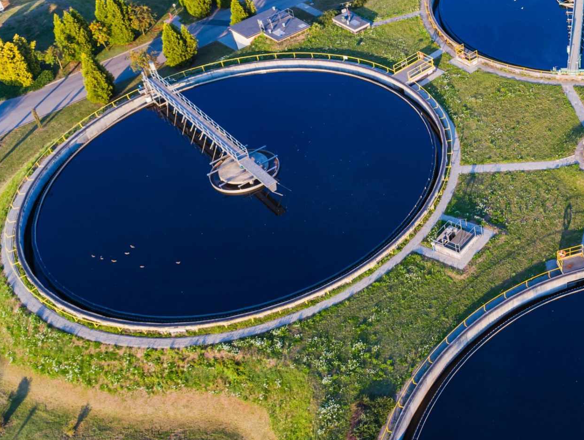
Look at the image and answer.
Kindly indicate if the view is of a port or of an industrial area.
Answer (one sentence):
The picture captures an industrial area.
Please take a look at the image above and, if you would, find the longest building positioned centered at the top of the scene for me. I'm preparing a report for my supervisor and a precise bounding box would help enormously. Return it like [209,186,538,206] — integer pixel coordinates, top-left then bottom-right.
[230,7,311,53]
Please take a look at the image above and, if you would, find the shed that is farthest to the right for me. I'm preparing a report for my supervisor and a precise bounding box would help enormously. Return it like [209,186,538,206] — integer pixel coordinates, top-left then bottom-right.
[333,3,370,37]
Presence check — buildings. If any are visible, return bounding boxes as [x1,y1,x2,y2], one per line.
[230,7,311,53]
[333,3,370,37]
